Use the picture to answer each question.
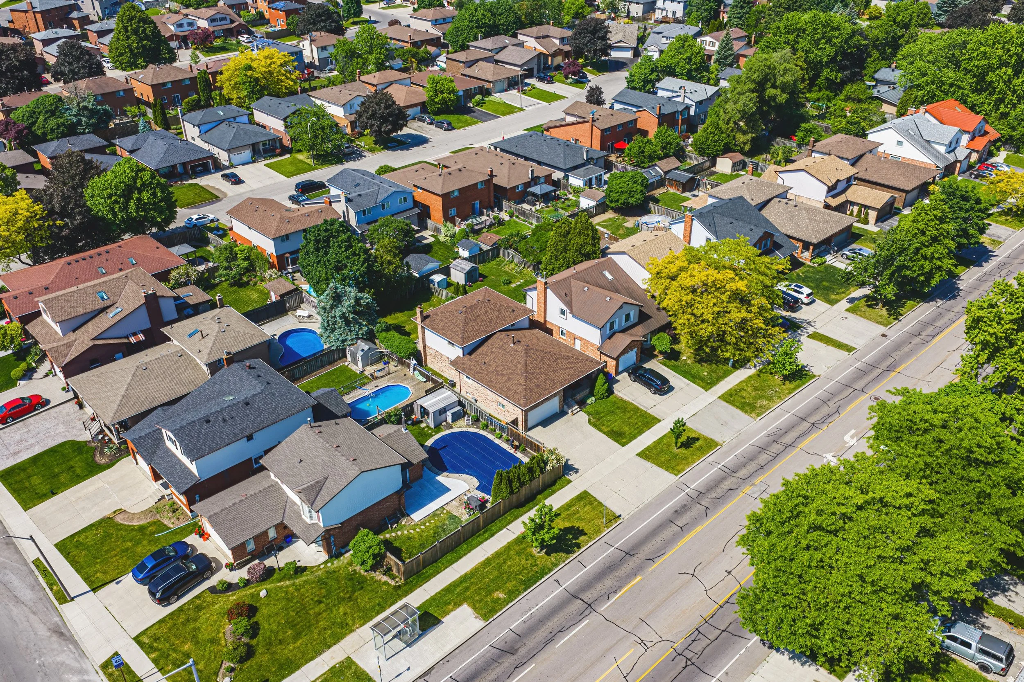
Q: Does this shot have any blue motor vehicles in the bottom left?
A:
Yes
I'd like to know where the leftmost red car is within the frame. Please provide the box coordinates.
[0,390,47,423]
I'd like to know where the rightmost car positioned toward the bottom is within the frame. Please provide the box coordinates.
[925,611,1024,679]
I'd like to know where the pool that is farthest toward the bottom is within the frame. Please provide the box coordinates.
[420,423,532,505]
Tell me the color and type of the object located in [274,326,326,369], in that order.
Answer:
blue swimming pool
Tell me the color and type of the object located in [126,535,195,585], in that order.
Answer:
blue car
